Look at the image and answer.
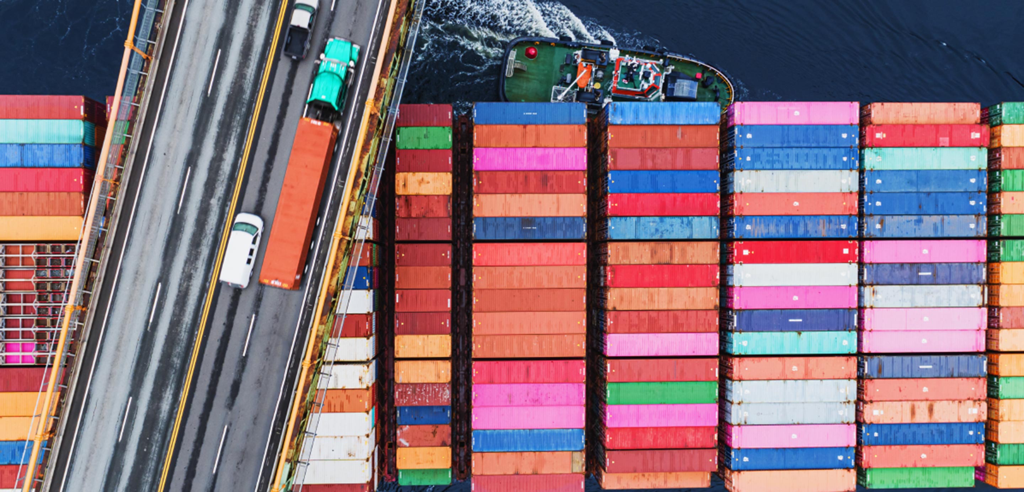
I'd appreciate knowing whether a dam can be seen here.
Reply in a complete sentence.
No, there appears to be no dam in this shot.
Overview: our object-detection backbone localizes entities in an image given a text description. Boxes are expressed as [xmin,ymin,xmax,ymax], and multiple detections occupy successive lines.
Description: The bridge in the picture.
[8,0,424,492]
